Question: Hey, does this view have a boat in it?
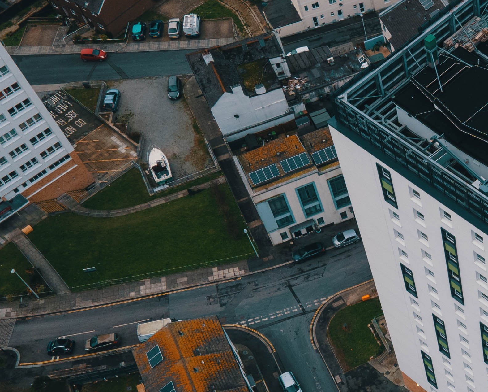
Yes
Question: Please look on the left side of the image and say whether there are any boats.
Yes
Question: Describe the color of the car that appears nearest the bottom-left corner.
black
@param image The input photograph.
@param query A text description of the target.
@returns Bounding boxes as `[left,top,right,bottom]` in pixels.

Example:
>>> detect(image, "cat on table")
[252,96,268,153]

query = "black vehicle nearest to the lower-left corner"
[44,337,80,359]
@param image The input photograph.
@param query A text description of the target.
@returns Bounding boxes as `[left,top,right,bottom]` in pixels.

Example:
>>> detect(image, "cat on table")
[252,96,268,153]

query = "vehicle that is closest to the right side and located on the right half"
[331,231,362,251]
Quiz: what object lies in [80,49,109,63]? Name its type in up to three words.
car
